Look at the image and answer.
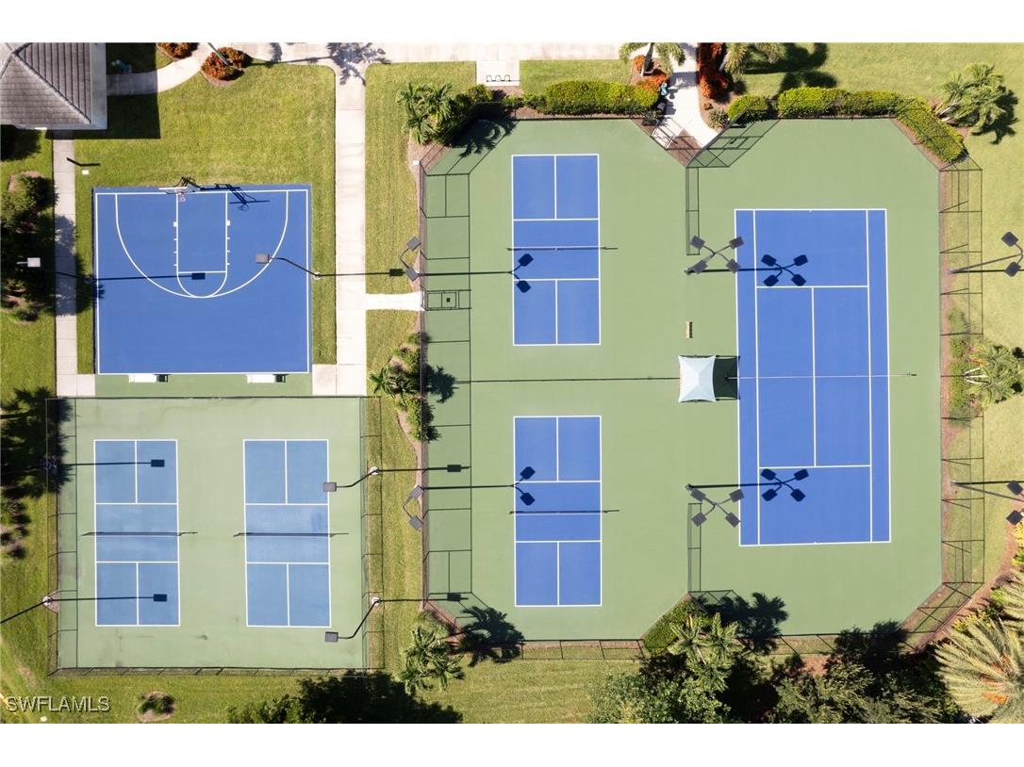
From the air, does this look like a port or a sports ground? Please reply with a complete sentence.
What you see here is a sports ground.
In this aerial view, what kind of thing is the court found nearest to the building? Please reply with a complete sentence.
In the photo, the court found nearest to the building shows up as a basketball court.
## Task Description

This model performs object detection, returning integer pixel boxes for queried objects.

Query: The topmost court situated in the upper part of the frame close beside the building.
[93,185,312,374]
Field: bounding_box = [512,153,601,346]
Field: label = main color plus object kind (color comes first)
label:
blue sports court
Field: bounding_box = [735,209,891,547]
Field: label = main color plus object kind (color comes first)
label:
blue tennis court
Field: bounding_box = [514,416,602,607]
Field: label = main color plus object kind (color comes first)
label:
blue sports court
